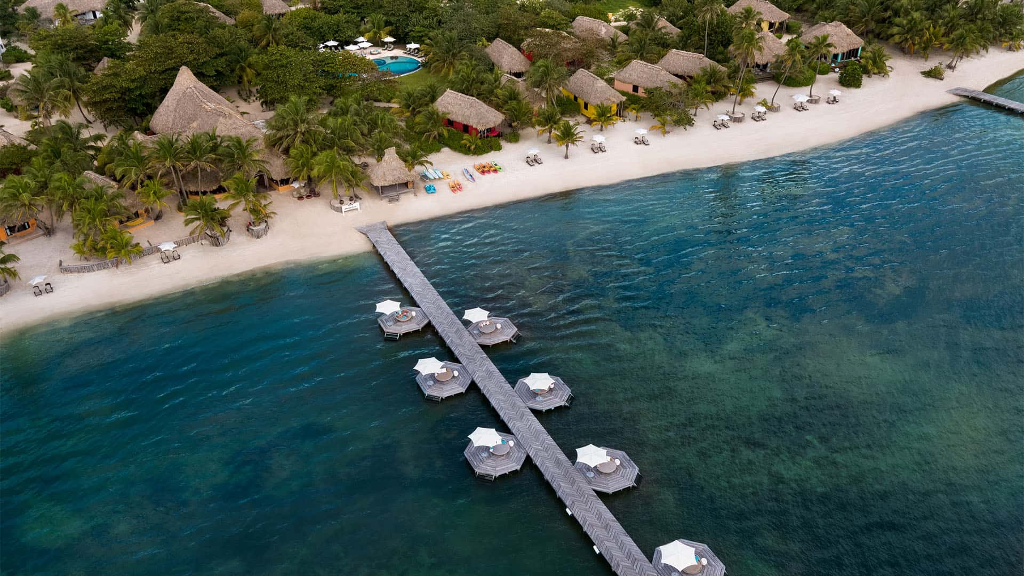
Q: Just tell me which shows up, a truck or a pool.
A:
pool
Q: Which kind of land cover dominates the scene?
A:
water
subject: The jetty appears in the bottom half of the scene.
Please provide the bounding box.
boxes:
[354,222,661,576]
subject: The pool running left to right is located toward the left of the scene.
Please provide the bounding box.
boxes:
[334,56,423,80]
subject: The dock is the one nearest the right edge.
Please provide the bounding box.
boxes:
[943,88,1024,117]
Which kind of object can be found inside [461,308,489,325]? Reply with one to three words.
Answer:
umbrella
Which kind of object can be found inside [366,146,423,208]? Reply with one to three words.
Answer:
shed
